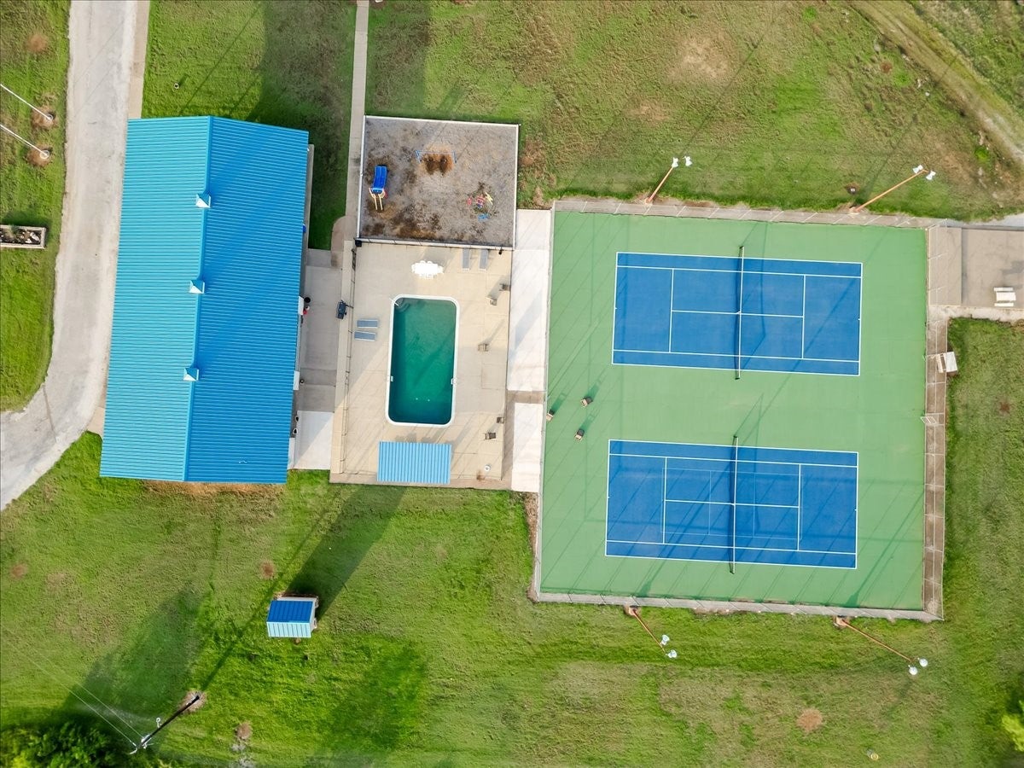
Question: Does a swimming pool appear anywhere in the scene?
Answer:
Yes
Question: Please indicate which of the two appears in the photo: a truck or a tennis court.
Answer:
tennis court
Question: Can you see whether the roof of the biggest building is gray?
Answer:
No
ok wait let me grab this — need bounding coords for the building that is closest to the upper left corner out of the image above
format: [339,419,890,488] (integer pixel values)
[98,115,312,485]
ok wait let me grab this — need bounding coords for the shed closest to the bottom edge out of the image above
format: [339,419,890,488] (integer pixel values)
[268,594,324,638]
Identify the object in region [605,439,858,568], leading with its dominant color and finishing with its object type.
blue tennis court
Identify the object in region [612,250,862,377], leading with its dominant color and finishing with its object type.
blue tennis court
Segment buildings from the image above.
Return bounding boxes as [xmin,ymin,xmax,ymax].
[268,594,324,638]
[98,115,312,485]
